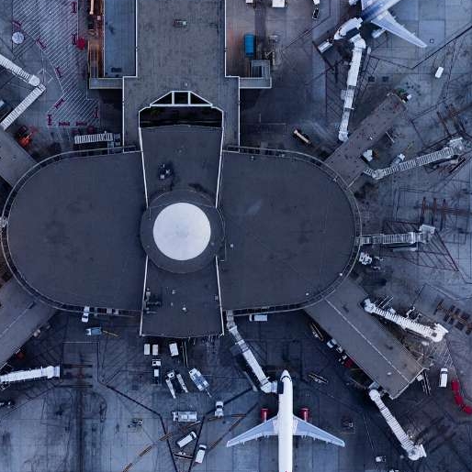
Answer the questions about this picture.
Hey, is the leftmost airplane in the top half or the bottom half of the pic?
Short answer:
bottom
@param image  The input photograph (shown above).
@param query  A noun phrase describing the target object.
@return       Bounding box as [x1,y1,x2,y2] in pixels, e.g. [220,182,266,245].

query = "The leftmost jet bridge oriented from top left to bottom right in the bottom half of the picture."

[225,313,284,391]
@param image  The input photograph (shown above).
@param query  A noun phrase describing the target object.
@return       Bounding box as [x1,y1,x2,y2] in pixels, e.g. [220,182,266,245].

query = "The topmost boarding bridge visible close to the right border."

[362,135,464,180]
